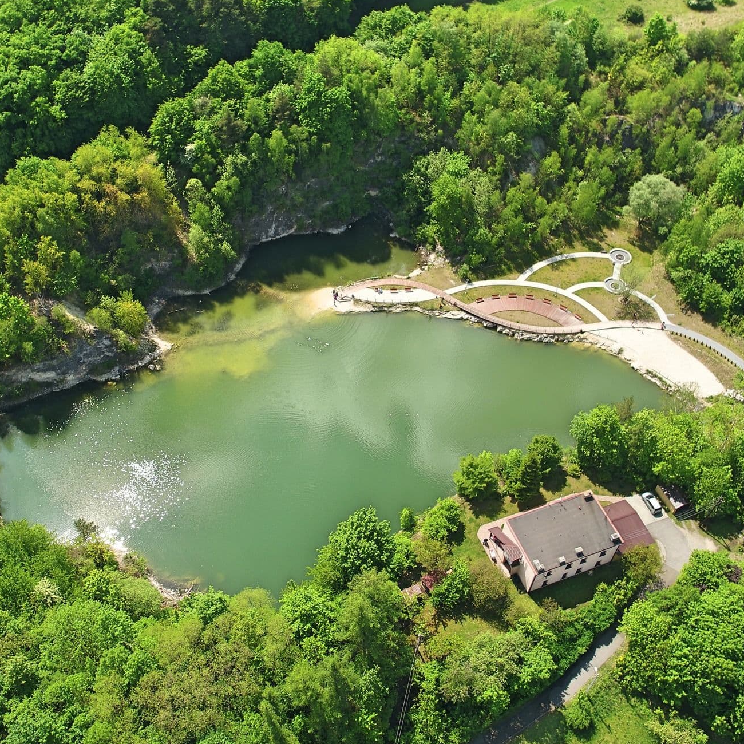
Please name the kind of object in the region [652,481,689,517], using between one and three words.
shed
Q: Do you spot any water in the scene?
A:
Yes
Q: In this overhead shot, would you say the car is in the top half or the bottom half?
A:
bottom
